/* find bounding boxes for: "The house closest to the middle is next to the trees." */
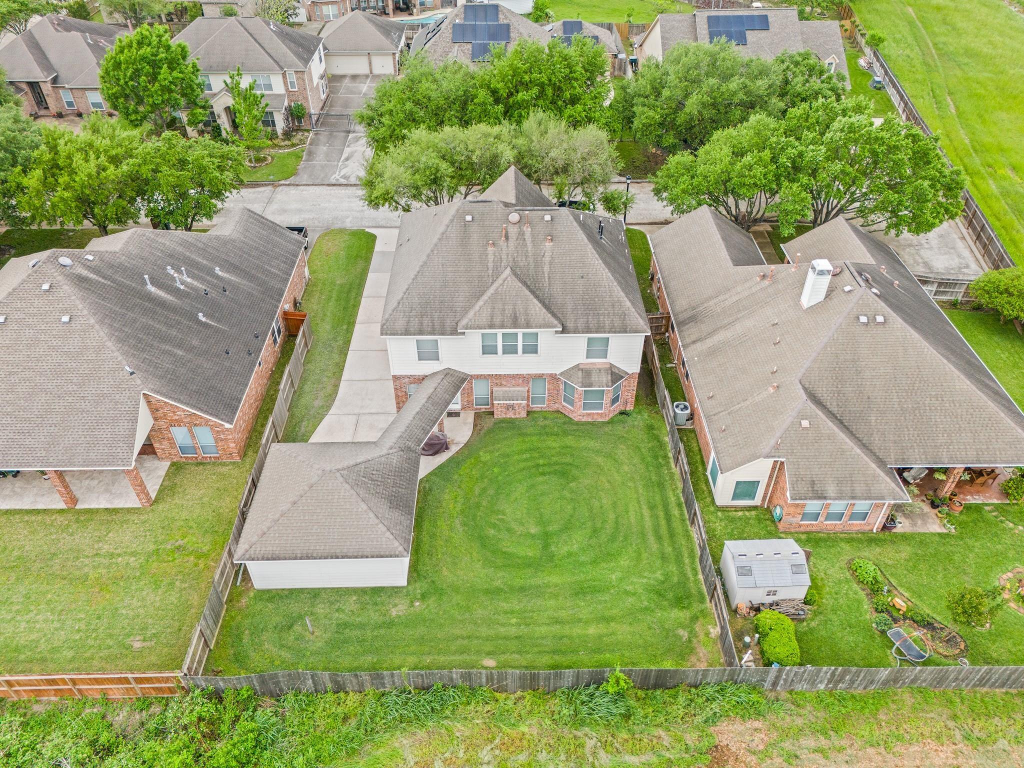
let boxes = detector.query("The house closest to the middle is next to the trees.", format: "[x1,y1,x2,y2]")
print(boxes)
[379,166,652,421]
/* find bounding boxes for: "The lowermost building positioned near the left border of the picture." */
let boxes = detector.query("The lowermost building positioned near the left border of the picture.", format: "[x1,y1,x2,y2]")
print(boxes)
[0,208,309,508]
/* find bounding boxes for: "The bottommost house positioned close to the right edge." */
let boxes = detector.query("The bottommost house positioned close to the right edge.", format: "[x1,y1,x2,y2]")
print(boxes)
[647,205,1024,535]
